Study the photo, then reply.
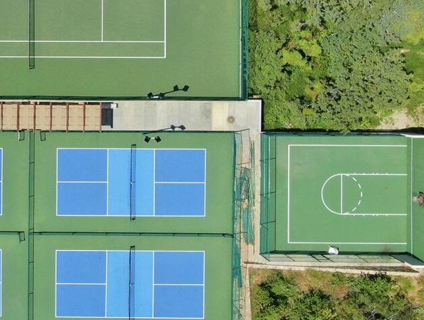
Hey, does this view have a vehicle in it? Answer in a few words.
No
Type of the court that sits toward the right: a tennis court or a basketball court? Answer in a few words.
basketball court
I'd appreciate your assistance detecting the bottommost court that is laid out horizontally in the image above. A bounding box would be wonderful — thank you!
[55,250,205,319]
